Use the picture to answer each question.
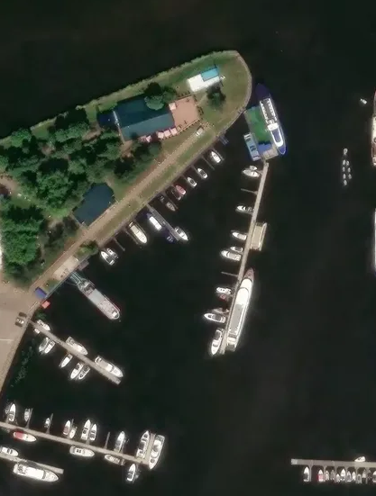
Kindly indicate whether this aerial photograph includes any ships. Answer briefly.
Yes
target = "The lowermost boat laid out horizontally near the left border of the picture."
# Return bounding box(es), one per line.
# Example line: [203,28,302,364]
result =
[13,462,59,479]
